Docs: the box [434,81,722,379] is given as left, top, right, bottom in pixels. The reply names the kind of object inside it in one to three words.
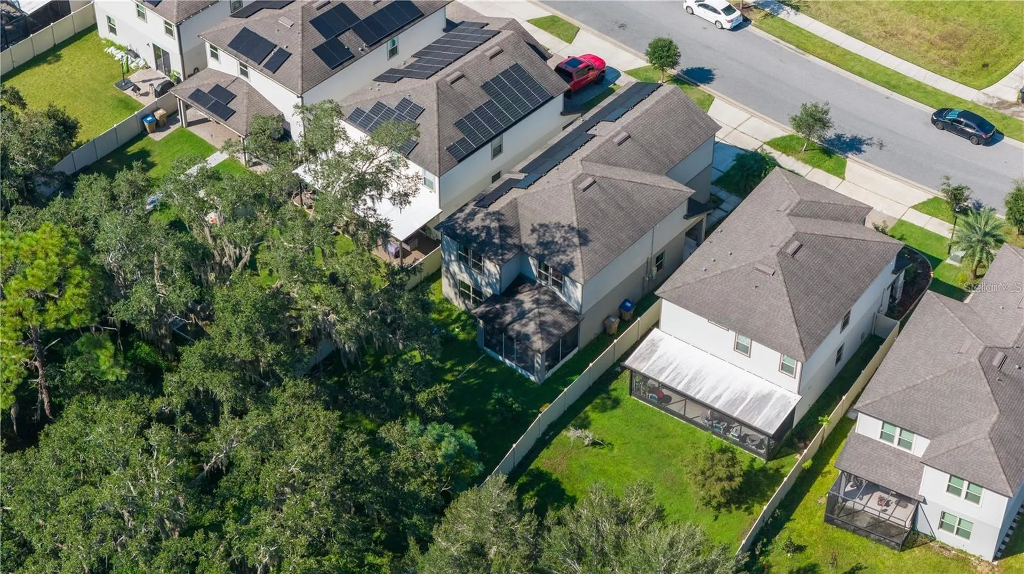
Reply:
house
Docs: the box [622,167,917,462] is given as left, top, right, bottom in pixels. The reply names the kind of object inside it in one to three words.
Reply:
house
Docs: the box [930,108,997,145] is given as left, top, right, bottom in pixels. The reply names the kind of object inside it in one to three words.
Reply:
car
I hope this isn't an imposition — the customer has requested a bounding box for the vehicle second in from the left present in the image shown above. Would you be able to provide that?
[683,0,741,28]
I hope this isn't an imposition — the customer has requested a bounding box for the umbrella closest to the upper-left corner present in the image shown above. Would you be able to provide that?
[112,56,135,90]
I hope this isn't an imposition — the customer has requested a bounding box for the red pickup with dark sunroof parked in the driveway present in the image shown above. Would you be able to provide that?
[559,57,609,100]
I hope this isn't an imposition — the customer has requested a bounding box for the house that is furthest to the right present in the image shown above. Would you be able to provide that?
[821,239,1024,557]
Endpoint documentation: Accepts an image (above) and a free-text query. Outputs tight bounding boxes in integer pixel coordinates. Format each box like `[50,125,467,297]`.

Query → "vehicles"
[559,57,609,100]
[930,108,997,145]
[683,0,741,28]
